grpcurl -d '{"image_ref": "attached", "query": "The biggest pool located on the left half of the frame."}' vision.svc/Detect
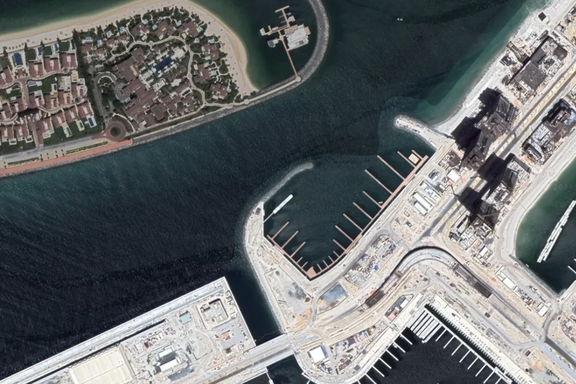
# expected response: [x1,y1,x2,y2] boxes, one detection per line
[155,55,174,70]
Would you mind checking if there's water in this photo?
Yes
